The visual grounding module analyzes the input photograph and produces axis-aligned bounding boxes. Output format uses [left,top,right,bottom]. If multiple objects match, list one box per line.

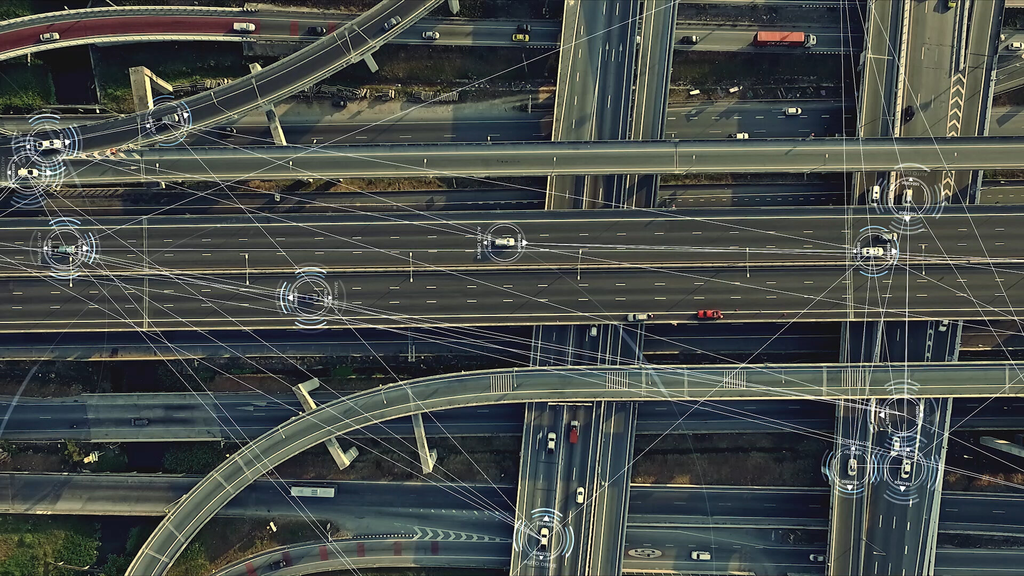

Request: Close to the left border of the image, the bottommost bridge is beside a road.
[0,471,251,520]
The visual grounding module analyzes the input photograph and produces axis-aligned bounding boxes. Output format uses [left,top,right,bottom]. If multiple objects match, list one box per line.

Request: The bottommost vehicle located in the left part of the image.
[268,558,287,570]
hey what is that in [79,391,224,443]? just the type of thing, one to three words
bridge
